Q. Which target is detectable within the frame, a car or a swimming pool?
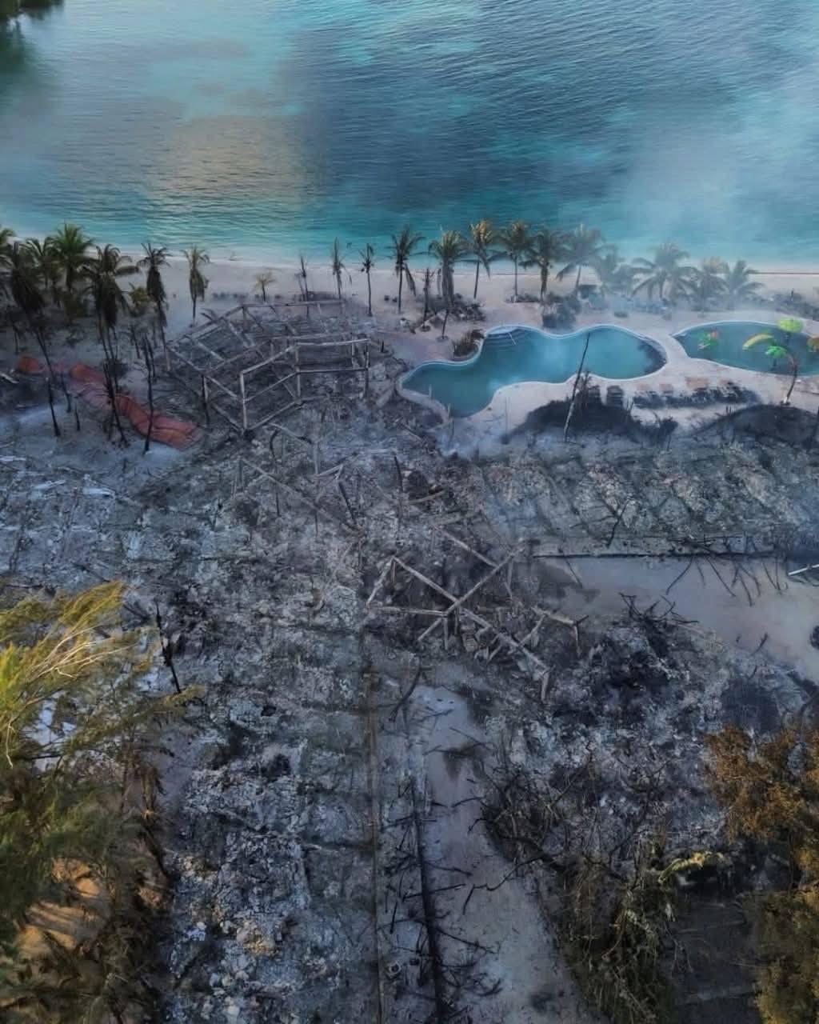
swimming pool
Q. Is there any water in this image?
Yes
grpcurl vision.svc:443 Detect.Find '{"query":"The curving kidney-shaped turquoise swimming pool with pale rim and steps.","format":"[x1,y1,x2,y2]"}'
[396,323,668,419]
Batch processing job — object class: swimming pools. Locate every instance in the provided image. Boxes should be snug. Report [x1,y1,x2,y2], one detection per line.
[396,323,668,419]
[673,319,819,376]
